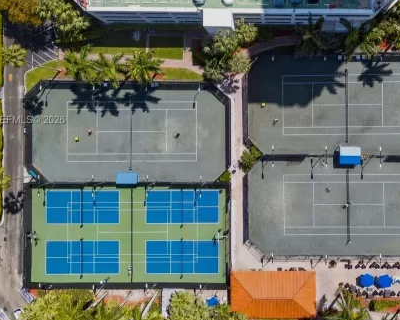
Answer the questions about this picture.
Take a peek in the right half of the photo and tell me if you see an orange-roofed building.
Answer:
Yes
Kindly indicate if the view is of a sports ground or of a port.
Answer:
sports ground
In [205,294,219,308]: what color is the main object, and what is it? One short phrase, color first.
blue umbrella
